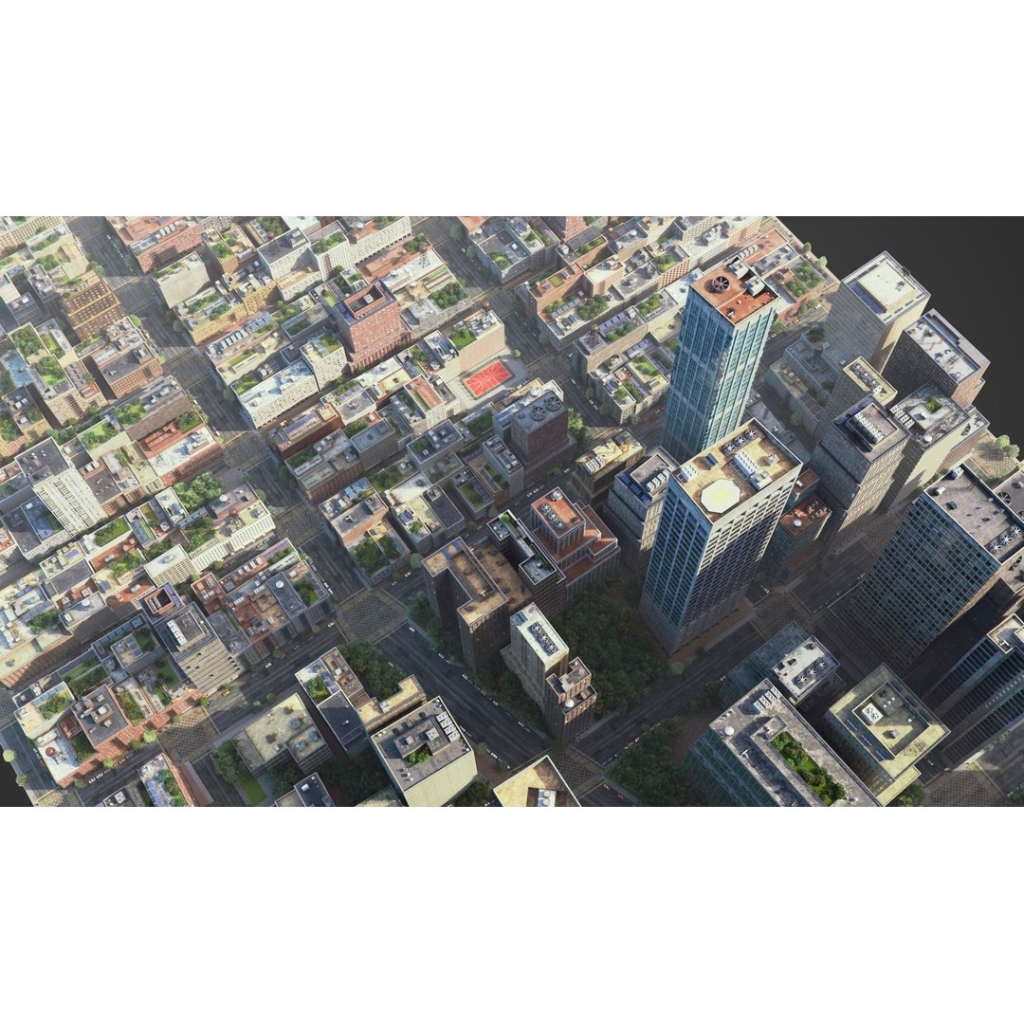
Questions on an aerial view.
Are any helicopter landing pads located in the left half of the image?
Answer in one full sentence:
No, the scene shows no helicopter landing pad in the left half of the image.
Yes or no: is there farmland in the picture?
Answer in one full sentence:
No, there is no farmland in the image.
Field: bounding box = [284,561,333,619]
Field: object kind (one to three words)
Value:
building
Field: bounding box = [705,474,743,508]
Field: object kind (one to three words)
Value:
helipad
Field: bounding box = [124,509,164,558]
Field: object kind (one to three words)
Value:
building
